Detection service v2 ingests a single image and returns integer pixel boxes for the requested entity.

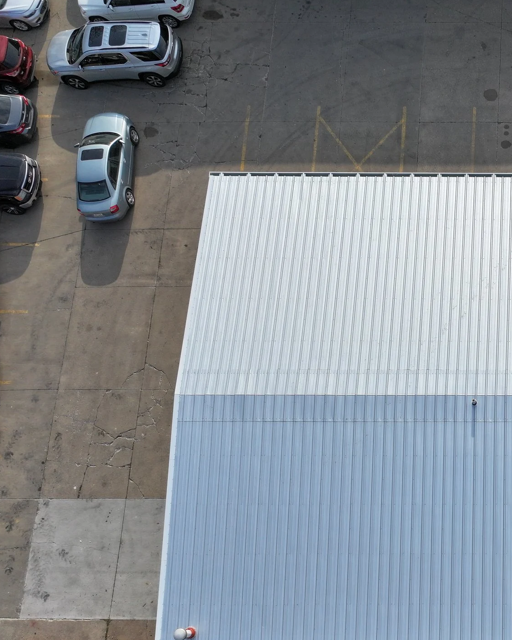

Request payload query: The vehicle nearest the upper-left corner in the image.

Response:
[0,0,50,32]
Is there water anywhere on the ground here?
No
